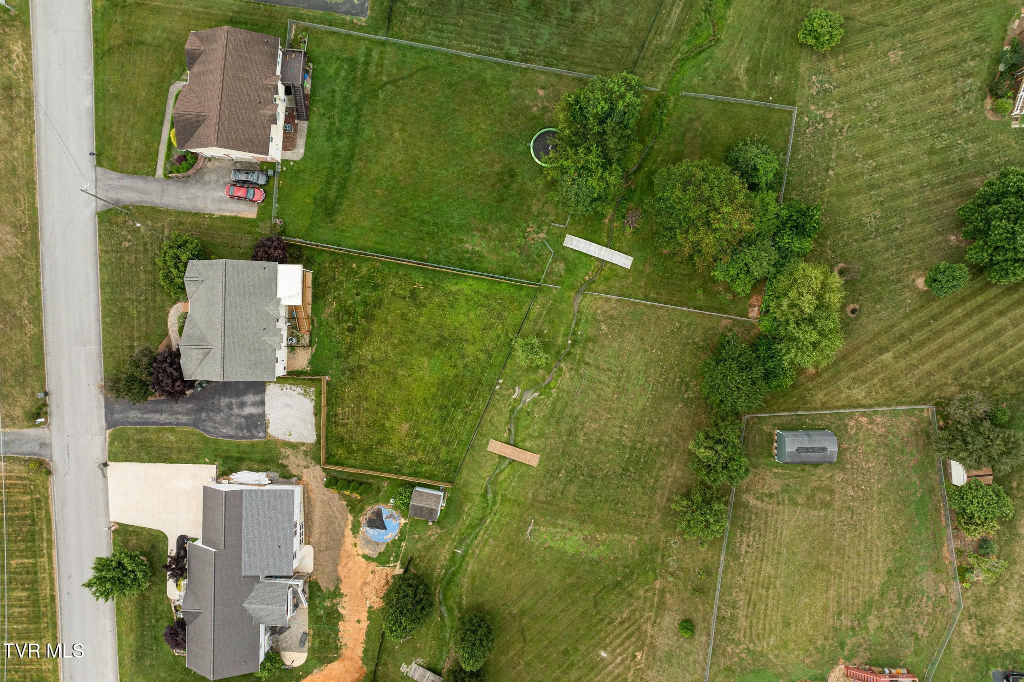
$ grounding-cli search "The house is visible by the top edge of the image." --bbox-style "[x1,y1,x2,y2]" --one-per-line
[172,25,288,164]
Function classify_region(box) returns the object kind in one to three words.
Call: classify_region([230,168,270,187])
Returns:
car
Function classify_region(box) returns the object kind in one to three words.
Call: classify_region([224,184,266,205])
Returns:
car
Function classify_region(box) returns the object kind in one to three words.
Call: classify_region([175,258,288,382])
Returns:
house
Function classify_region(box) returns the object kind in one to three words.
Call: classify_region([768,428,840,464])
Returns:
shed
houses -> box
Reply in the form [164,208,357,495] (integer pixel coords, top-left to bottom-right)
[175,258,288,382]
[178,484,305,681]
[172,25,288,164]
